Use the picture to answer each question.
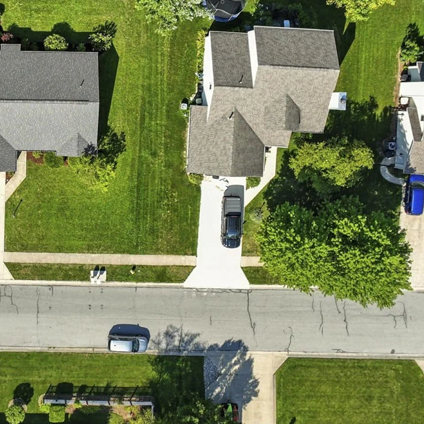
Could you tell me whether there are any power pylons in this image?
No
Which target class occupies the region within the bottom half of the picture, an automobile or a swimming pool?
automobile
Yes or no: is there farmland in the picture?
No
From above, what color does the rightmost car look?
blue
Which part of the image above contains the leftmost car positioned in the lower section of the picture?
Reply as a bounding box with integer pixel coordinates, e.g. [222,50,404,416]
[106,332,149,355]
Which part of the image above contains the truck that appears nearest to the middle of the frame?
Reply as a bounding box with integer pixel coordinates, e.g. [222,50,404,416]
[220,195,243,248]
